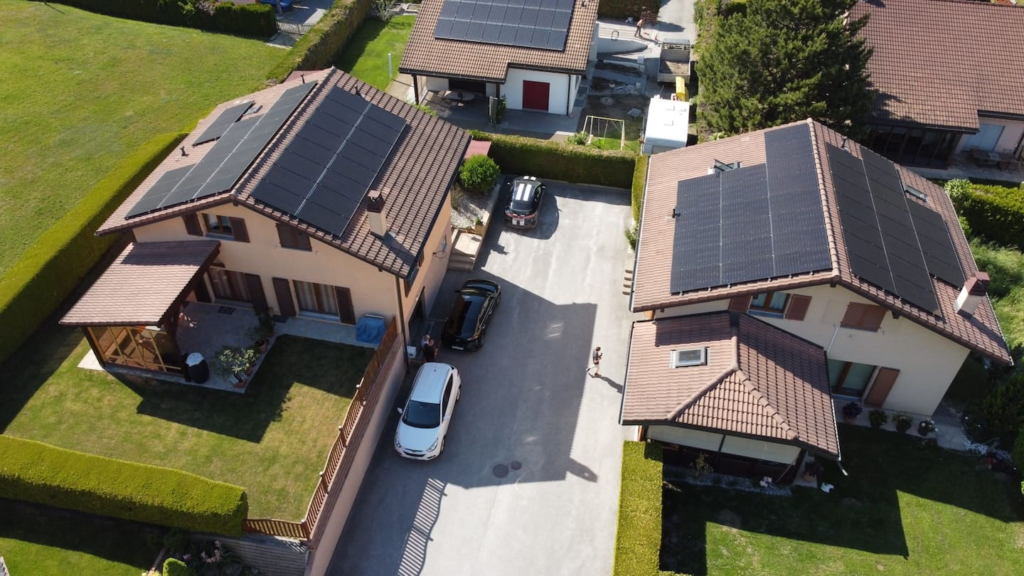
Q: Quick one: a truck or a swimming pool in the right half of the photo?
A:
truck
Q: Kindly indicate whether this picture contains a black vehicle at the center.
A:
Yes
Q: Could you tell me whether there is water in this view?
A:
No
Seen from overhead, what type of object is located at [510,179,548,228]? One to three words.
car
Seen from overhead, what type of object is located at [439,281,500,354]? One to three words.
car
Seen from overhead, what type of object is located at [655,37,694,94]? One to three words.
truck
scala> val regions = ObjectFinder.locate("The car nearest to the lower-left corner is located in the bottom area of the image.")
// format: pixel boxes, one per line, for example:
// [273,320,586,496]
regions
[394,364,461,463]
